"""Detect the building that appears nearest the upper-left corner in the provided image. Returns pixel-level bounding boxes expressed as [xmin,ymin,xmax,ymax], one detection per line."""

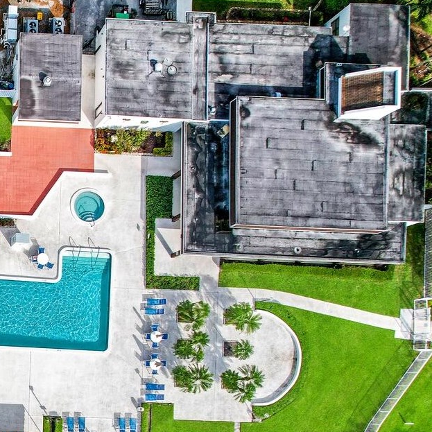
[13,34,82,131]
